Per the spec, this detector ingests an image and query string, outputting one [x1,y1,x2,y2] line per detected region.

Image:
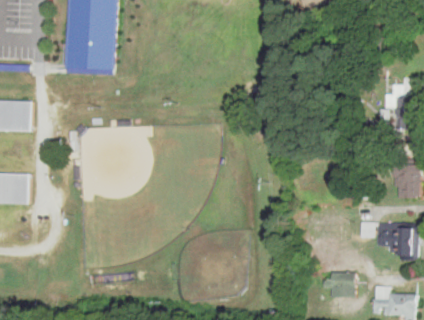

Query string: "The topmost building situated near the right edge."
[380,76,412,128]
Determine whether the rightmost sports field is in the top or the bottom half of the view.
bottom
